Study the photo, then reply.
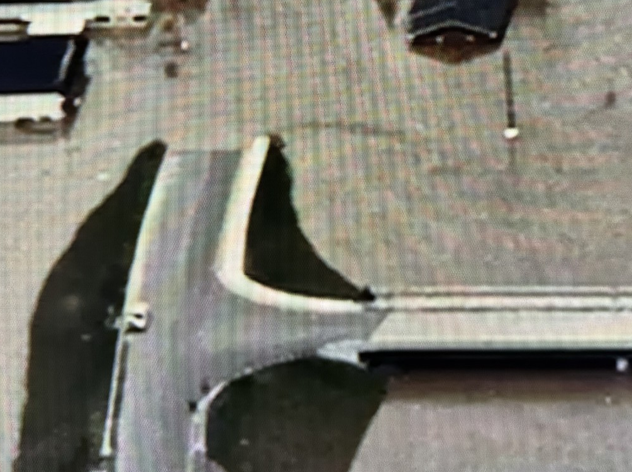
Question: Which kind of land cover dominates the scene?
water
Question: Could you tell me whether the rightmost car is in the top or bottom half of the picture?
bottom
